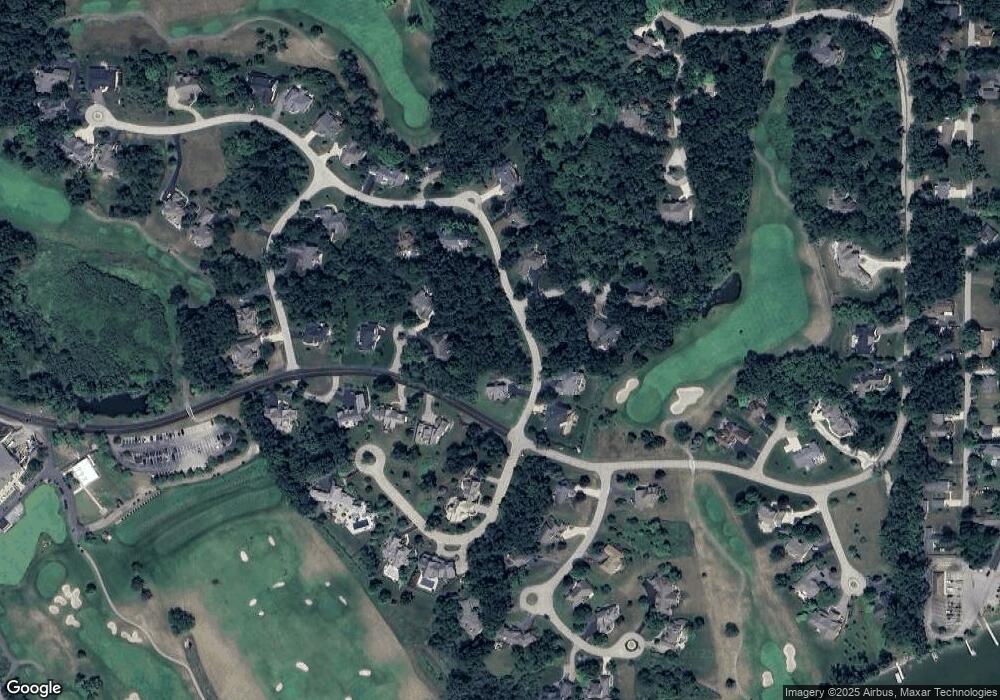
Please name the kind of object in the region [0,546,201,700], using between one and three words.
golf course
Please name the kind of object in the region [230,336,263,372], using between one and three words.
house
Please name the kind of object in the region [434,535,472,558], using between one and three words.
roundabout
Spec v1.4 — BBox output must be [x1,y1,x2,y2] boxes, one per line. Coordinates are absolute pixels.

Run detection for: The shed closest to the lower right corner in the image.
[934,571,947,597]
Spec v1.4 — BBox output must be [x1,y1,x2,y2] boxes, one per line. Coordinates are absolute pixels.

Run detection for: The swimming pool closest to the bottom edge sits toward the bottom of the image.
[417,575,438,592]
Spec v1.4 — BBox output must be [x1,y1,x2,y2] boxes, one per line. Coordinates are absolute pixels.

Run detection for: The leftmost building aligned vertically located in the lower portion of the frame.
[0,426,36,502]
